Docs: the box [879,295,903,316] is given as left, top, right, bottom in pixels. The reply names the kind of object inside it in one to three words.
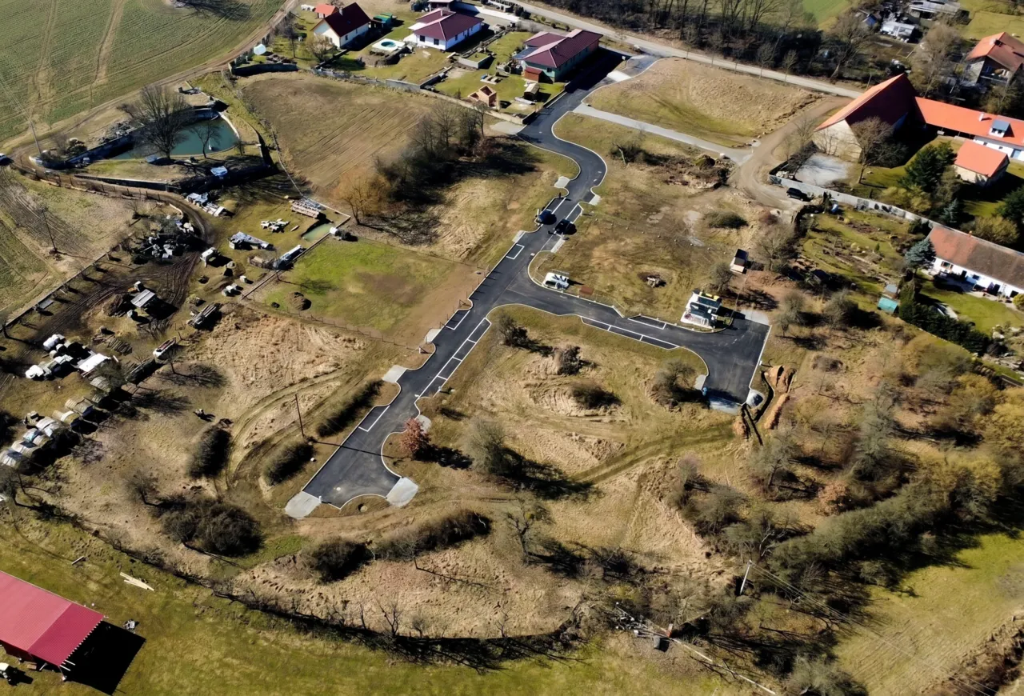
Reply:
shed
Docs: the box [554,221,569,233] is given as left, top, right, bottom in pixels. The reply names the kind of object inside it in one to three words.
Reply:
vehicle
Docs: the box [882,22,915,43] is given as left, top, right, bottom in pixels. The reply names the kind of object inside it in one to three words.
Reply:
greenhouse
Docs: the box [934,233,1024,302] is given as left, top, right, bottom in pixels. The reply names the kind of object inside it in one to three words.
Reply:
house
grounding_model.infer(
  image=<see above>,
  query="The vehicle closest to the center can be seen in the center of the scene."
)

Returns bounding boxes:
[543,272,568,287]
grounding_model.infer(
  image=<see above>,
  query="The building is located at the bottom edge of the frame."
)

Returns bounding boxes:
[0,571,108,679]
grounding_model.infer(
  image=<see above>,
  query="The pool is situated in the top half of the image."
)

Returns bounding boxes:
[371,36,406,54]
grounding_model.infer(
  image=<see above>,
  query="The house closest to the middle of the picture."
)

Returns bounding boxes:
[679,285,722,329]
